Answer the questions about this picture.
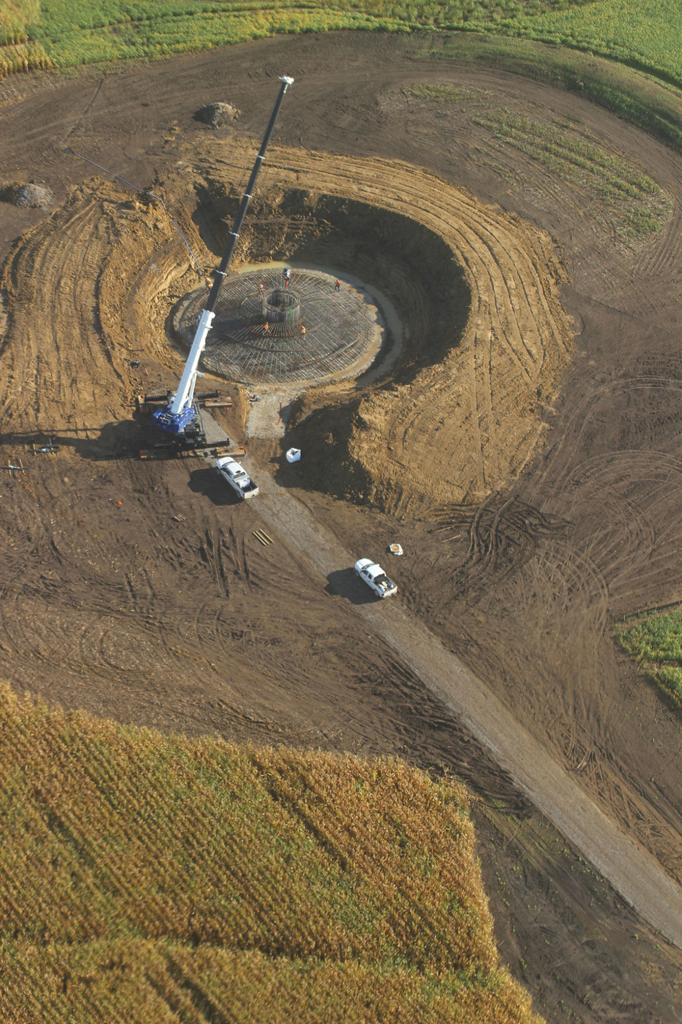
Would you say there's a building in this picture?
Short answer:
No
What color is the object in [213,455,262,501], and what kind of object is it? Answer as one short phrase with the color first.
white truck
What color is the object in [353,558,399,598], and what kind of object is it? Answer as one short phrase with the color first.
white truck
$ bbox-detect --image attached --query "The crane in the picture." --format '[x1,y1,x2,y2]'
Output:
[138,73,294,458]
